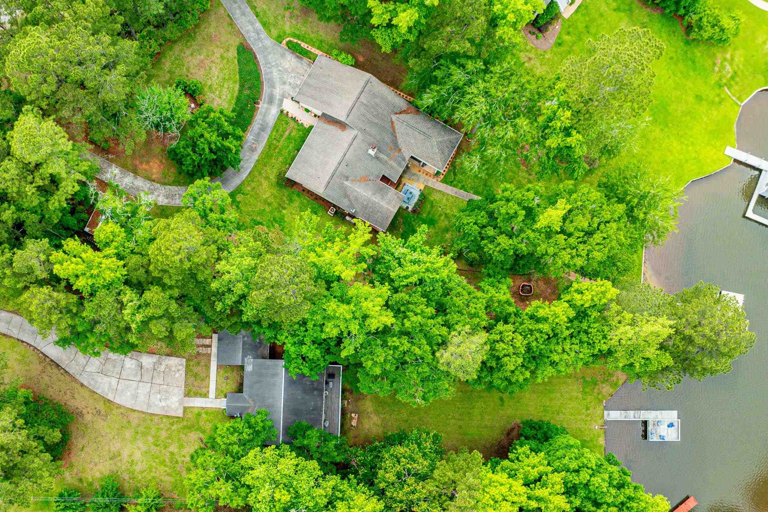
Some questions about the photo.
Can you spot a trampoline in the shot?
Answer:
No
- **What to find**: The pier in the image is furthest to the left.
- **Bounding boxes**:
[605,411,684,442]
